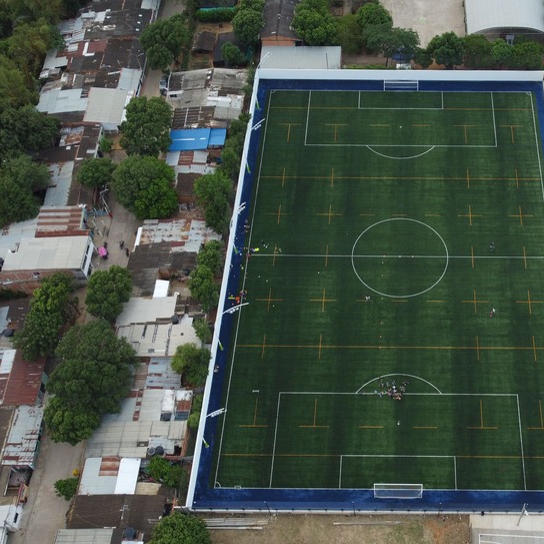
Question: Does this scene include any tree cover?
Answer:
Yes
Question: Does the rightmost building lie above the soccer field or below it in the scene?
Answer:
above it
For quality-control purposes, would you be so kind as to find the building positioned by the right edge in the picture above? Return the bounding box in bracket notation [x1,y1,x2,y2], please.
[462,0,544,45]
